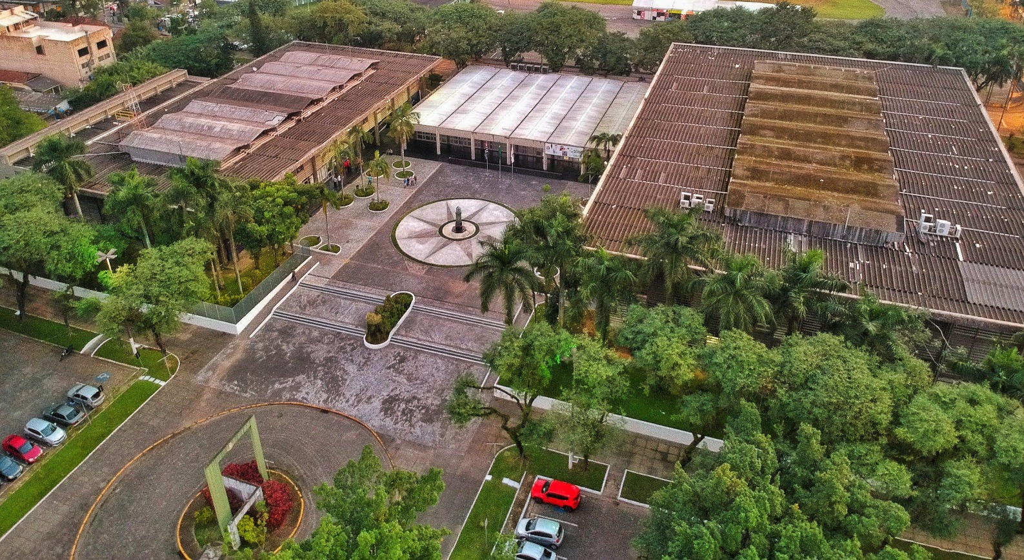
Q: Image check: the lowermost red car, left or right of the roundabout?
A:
to the right of it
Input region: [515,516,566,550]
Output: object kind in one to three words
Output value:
car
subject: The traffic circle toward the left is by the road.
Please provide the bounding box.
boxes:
[71,401,386,560]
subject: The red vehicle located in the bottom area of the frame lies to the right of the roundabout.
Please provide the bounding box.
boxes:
[532,478,583,512]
